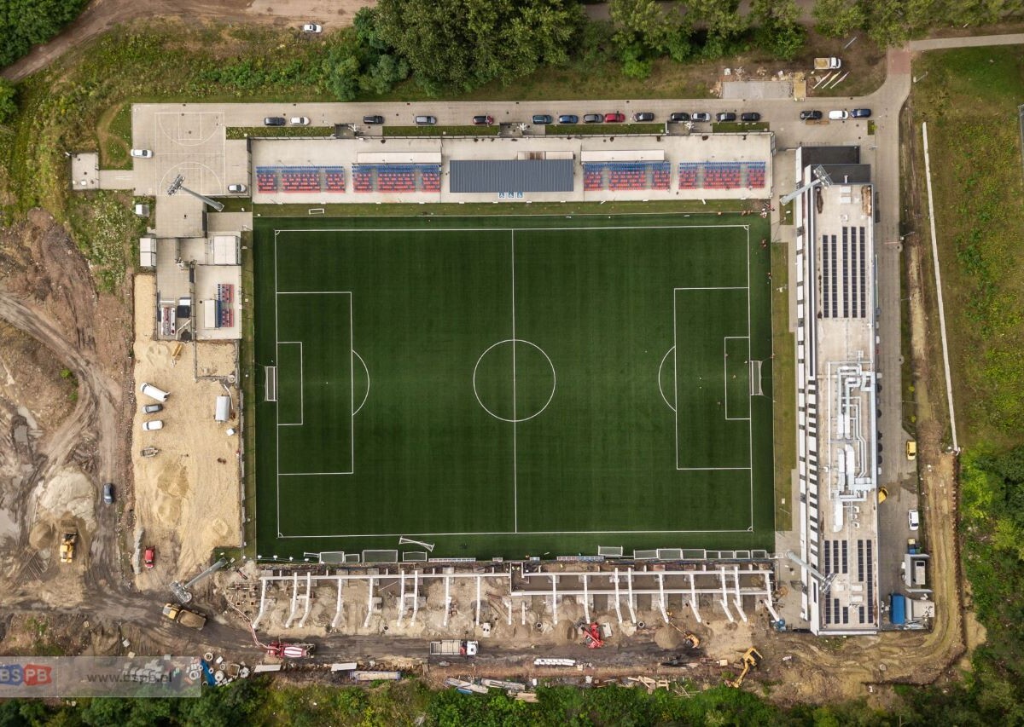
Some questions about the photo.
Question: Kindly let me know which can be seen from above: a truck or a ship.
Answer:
truck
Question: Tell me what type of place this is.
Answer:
sports ground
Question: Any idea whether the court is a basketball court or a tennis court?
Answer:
basketball court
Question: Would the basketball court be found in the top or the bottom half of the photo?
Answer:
top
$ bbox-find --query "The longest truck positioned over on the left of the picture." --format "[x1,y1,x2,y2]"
[228,601,314,659]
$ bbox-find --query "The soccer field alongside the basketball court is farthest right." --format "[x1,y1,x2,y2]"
[255,211,775,561]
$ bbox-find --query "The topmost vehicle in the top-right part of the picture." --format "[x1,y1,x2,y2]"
[812,57,840,70]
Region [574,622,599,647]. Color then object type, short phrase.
red work vehicle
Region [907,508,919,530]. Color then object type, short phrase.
white vehicle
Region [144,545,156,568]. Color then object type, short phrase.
red vehicle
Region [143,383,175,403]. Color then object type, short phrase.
white vehicle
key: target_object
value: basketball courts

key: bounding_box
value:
[155,112,225,195]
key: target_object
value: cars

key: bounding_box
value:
[605,112,624,123]
[290,115,309,126]
[559,114,578,124]
[142,403,165,414]
[363,115,384,125]
[415,114,437,125]
[142,420,165,430]
[904,438,917,461]
[303,23,323,34]
[690,111,712,122]
[668,111,690,122]
[532,113,553,125]
[849,107,872,118]
[799,109,822,120]
[264,115,287,126]
[714,111,737,122]
[228,183,248,193]
[633,111,655,122]
[131,148,154,159]
[103,482,114,504]
[583,114,603,123]
[474,114,493,125]
[907,508,919,530]
[826,109,849,120]
[739,111,761,122]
